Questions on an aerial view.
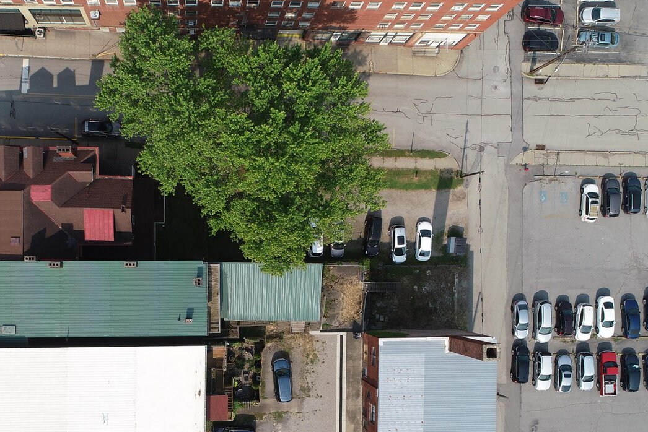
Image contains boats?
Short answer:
No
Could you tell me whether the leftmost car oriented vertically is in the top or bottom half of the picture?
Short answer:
bottom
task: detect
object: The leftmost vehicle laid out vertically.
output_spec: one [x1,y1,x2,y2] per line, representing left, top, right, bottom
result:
[271,356,293,402]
